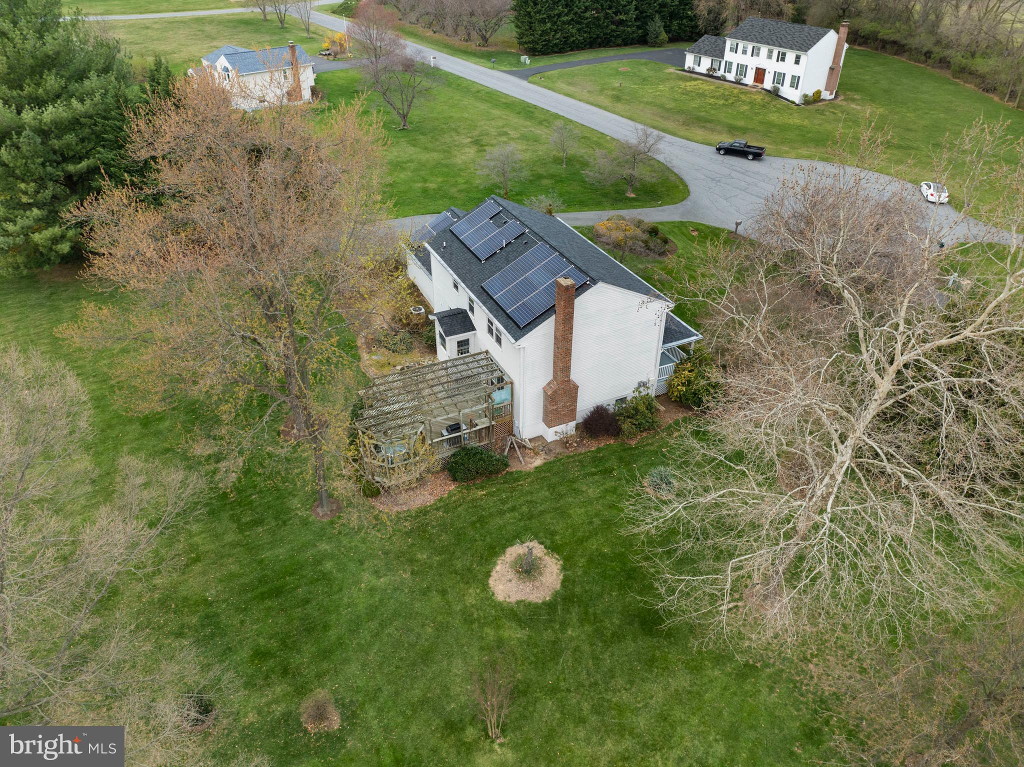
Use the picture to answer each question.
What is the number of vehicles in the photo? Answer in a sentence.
The picture shows 2 vehicles.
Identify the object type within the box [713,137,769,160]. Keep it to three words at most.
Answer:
truck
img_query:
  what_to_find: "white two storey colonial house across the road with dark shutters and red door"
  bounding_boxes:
[695,14,854,100]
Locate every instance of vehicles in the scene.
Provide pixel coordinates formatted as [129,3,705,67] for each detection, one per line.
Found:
[918,180,951,203]
[713,137,769,160]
